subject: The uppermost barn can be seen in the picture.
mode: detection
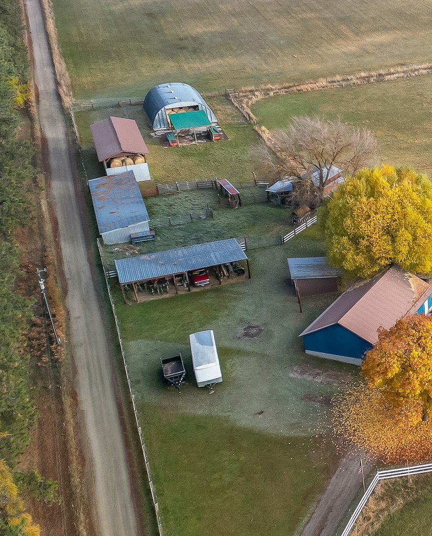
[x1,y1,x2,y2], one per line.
[147,79,219,130]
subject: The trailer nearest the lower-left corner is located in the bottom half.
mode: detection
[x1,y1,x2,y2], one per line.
[160,352,188,393]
